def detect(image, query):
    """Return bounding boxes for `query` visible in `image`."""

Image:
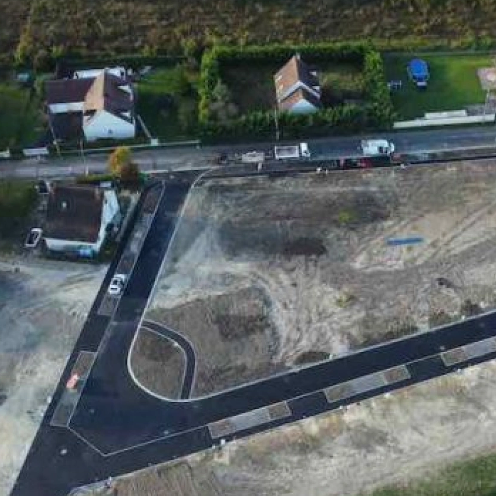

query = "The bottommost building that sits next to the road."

[41,180,126,259]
